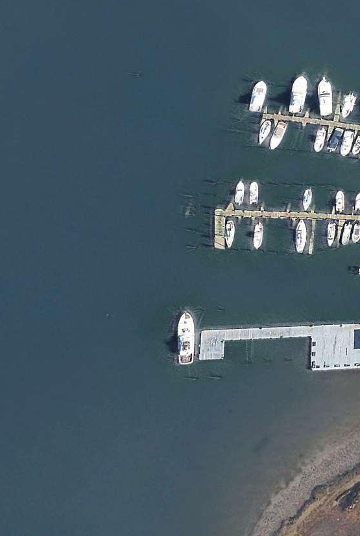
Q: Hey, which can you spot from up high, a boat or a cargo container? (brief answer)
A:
boat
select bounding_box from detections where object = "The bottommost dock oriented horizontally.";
[214,202,360,255]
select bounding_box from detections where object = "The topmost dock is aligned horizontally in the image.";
[260,103,360,137]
